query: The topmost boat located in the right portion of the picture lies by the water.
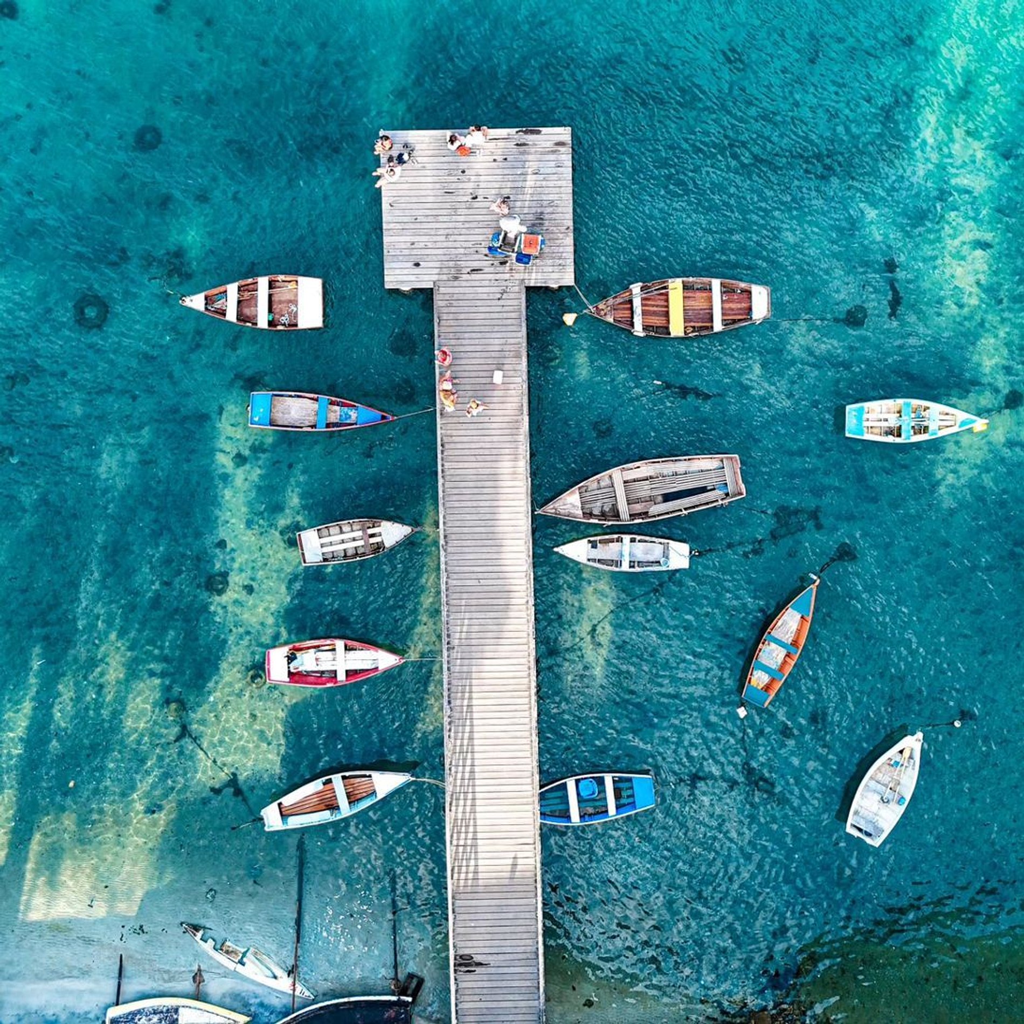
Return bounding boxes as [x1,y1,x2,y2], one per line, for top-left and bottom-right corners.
[582,277,773,337]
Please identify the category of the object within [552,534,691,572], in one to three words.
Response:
boat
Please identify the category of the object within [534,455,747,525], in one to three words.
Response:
boat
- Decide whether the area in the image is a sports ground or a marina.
marina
